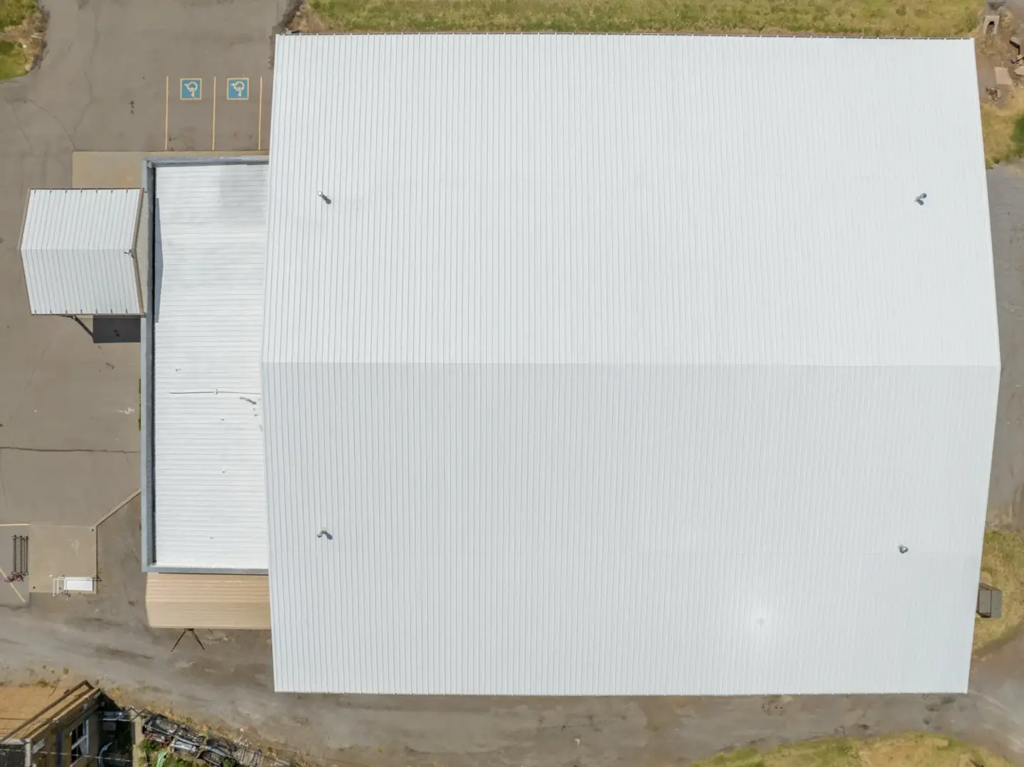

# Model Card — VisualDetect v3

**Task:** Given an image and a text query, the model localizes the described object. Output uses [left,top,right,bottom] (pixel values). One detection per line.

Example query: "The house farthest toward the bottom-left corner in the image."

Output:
[0,681,100,767]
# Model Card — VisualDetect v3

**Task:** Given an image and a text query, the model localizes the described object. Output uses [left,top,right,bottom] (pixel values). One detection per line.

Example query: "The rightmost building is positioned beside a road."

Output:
[260,33,1003,694]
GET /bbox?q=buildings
[260,33,1003,694]
[0,681,100,767]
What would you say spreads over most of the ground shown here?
buildings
